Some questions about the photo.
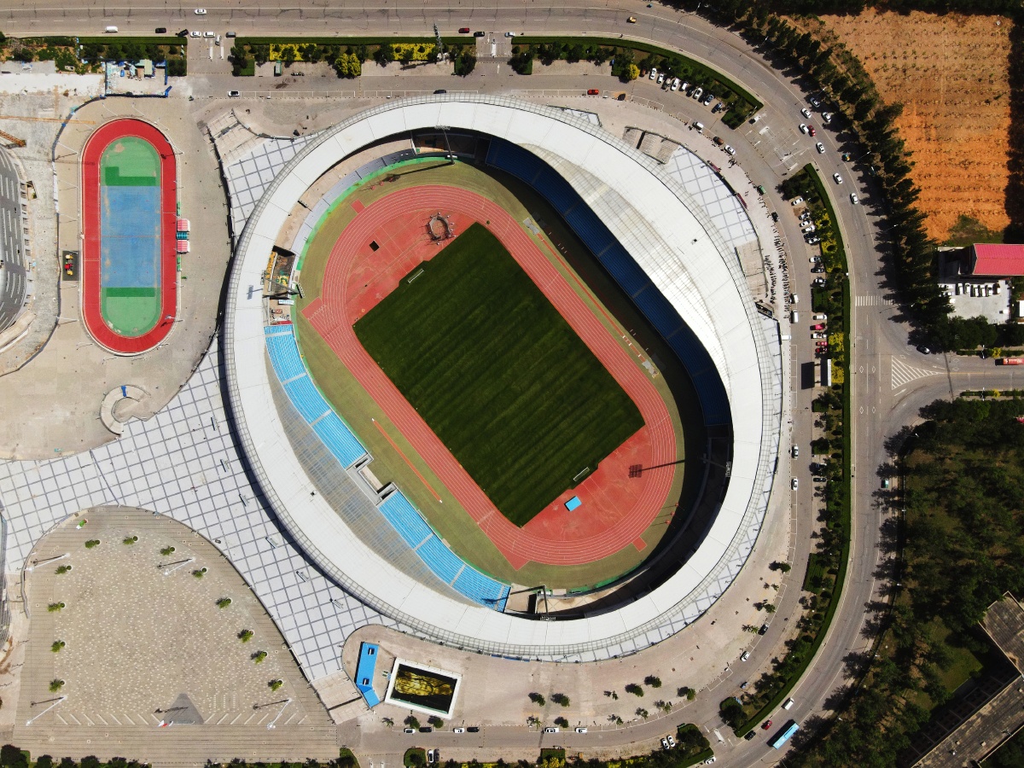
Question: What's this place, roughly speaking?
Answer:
sports ground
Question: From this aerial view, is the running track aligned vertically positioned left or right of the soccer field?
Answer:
left of it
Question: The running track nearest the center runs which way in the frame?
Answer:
at an angle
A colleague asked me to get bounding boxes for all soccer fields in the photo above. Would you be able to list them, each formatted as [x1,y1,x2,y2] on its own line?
[354,222,644,526]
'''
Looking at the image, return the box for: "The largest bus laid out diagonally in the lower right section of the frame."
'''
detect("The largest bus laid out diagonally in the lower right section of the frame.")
[772,722,803,752]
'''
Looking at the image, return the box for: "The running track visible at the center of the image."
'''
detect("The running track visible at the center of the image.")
[304,181,677,580]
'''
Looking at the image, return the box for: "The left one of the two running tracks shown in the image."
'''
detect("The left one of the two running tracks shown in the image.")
[79,115,180,357]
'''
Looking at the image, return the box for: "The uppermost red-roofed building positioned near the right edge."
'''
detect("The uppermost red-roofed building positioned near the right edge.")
[956,243,1024,278]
